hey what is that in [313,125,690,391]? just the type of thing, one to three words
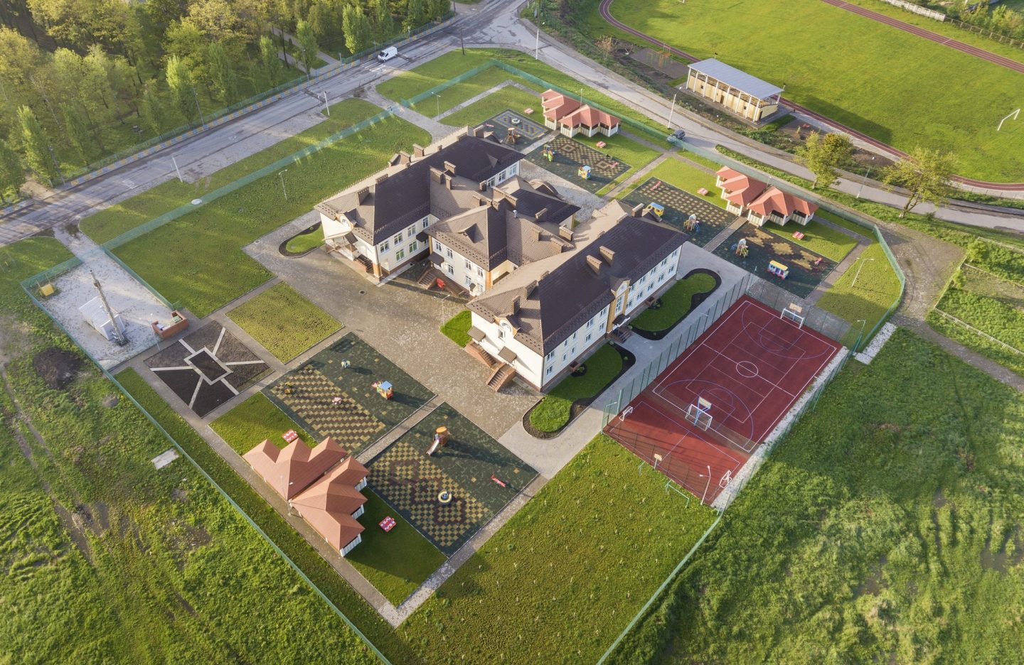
building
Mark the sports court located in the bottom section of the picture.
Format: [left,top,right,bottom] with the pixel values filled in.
[603,295,842,504]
